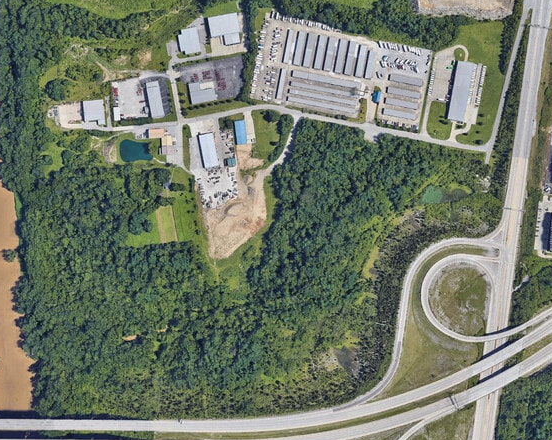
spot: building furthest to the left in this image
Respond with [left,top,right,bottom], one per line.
[84,100,105,125]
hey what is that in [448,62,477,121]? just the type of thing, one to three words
building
